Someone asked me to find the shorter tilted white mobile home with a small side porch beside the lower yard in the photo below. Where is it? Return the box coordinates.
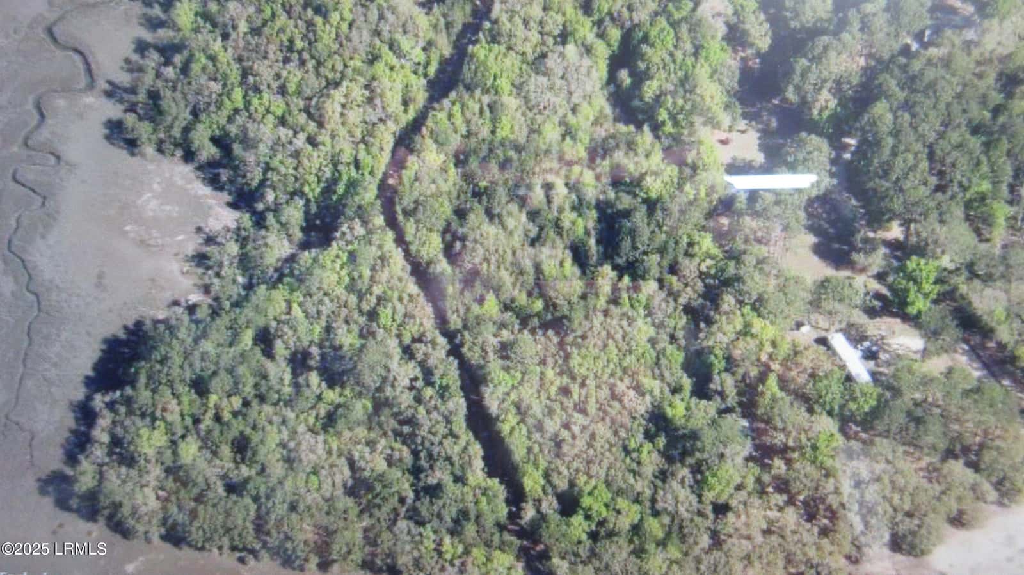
[829,332,873,390]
